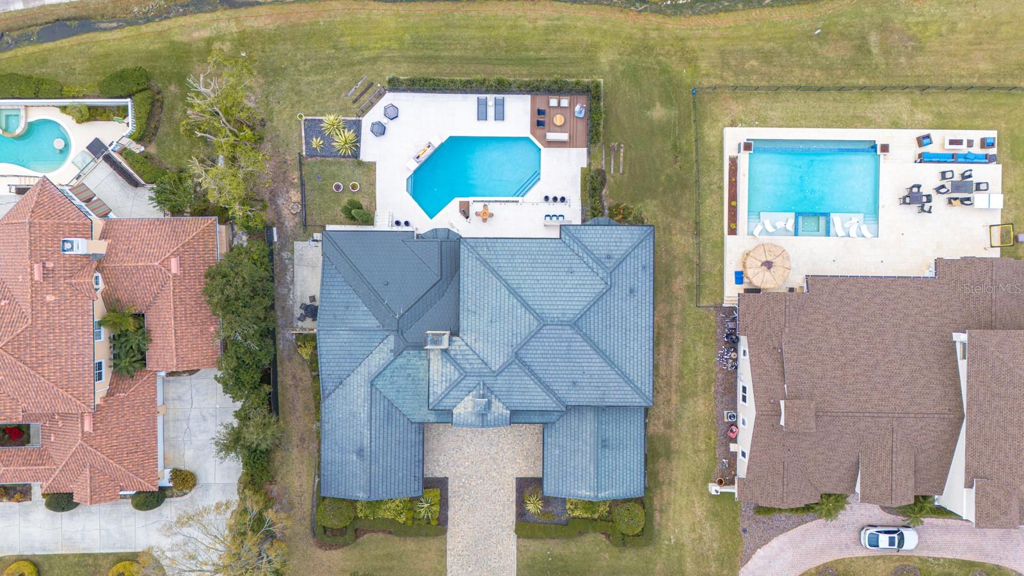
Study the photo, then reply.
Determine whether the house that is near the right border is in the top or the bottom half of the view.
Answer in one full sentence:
The bottom half of the photo is where the house that is near the right border is.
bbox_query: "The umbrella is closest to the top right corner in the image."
[752,242,800,289]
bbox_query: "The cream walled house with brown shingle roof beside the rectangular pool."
[729,258,1024,529]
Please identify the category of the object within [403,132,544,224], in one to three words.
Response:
swimming pool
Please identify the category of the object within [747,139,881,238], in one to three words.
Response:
swimming pool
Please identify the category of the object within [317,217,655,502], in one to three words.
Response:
house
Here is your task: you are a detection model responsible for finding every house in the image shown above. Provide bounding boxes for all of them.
[317,217,655,502]
[729,258,1024,529]
[0,174,232,506]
